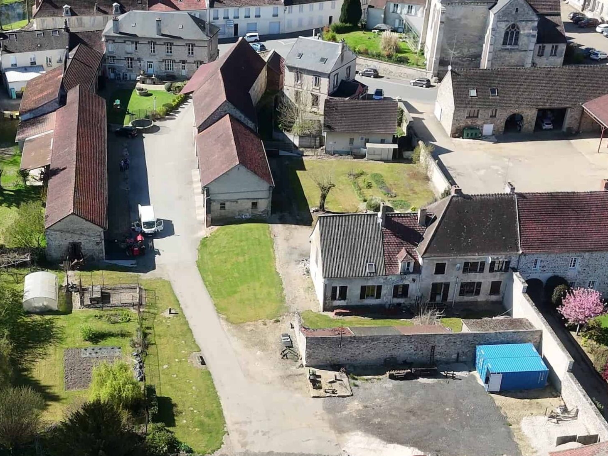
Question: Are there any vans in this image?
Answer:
Yes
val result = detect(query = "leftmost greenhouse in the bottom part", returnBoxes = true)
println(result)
[24,273,65,312]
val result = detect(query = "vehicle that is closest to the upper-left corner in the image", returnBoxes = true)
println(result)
[110,126,141,140]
